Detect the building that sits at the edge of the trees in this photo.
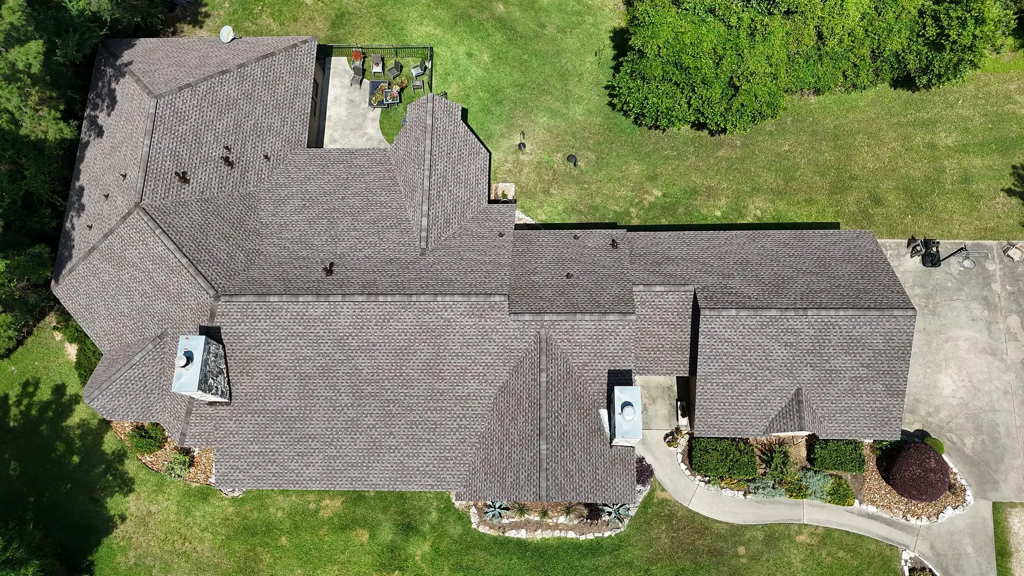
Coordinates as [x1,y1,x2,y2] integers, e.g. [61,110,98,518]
[51,36,919,503]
